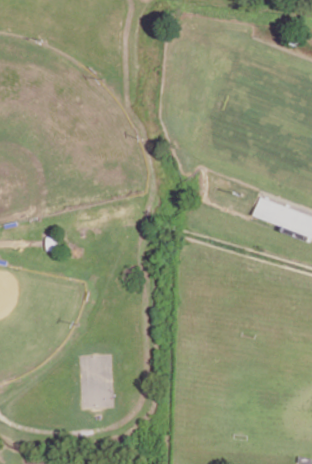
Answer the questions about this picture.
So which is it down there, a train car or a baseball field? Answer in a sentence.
The image shows a baseball field.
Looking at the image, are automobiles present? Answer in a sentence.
No, no automobile can be seen from above.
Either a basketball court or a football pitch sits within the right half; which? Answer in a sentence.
There is a football pitch within the right half.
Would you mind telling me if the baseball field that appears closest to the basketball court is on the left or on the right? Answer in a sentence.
You can find the baseball field that appears closest to the basketball court on the left side of the picture.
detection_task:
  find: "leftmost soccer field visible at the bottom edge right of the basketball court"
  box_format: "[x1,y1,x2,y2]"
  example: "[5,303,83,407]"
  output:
[196,328,288,446]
